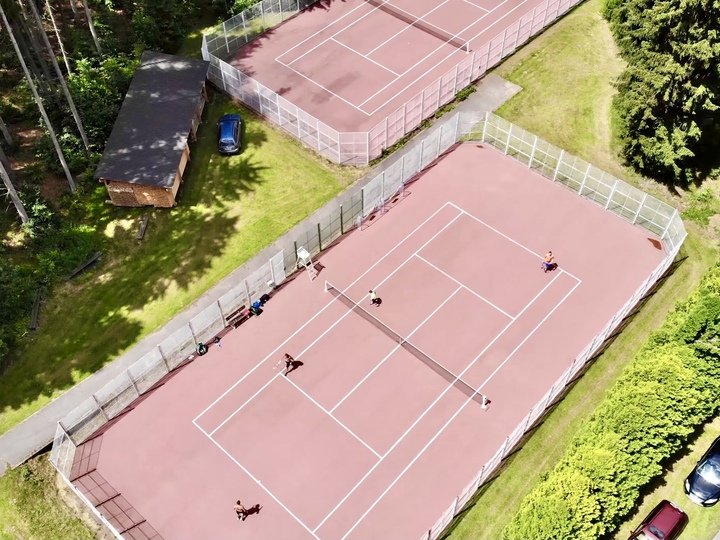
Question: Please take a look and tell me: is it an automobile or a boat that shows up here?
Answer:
automobile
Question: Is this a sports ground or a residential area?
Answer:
sports ground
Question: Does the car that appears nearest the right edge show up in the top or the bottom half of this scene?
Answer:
bottom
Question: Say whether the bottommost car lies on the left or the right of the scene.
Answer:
right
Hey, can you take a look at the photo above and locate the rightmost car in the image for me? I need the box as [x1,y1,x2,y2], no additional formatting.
[683,432,720,502]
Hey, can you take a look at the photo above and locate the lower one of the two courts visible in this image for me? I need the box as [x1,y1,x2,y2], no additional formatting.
[70,141,669,540]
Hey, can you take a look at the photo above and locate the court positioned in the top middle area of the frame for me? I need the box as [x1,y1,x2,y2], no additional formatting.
[206,0,581,165]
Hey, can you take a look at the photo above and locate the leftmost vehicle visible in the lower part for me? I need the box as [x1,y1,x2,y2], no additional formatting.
[637,501,694,540]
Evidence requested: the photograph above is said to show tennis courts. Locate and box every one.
[206,0,581,165]
[70,141,669,540]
